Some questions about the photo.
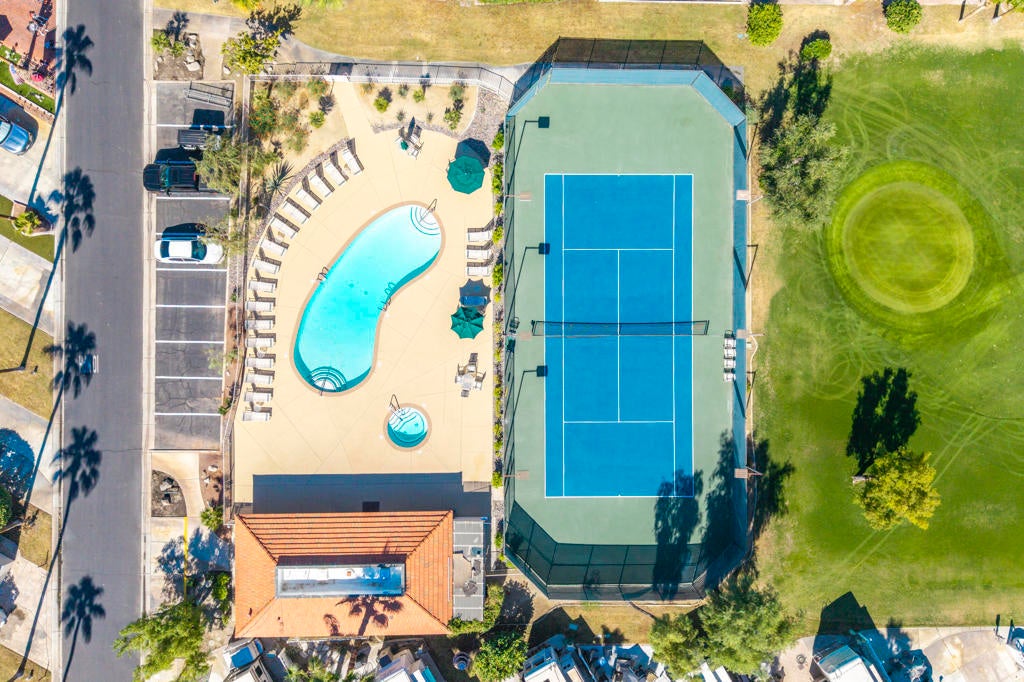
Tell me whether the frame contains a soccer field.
No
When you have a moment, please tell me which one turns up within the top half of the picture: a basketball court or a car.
car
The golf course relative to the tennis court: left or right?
to the right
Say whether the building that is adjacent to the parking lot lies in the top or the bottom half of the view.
bottom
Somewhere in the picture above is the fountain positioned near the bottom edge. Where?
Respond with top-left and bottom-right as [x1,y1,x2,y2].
[454,646,473,666]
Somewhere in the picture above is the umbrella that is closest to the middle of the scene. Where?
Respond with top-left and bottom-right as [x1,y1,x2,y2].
[451,304,485,339]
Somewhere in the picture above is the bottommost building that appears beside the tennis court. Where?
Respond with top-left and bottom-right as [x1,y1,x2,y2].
[234,510,453,638]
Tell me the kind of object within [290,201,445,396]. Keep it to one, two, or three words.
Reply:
swimming pool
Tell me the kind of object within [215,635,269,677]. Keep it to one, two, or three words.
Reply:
car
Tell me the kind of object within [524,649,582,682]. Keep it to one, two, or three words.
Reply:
camper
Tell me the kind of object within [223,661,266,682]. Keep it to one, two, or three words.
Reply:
vehicle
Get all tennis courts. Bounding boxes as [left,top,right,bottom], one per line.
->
[506,84,734,584]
